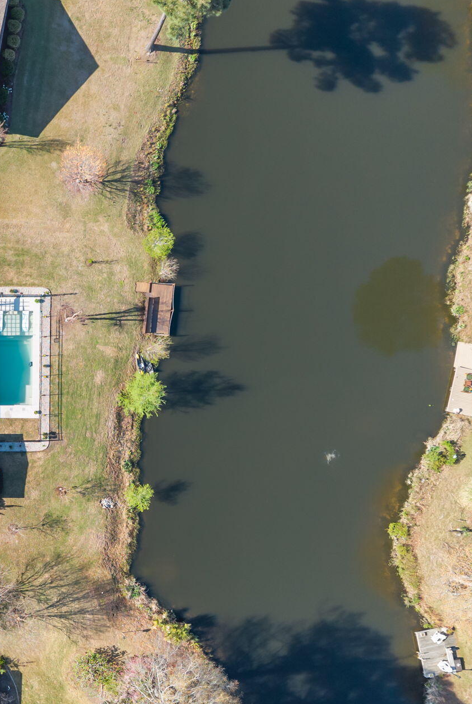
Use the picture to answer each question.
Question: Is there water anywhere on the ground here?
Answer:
Yes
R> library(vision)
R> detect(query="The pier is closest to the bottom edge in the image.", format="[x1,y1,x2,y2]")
[410,626,457,678]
